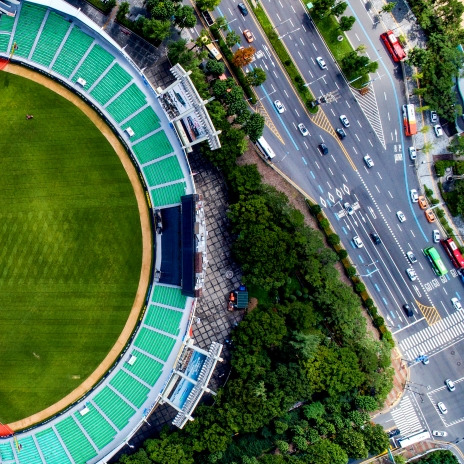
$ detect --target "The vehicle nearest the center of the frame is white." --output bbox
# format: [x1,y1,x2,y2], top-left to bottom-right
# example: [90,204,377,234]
[257,133,278,159]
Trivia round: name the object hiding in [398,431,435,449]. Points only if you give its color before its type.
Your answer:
white vehicle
